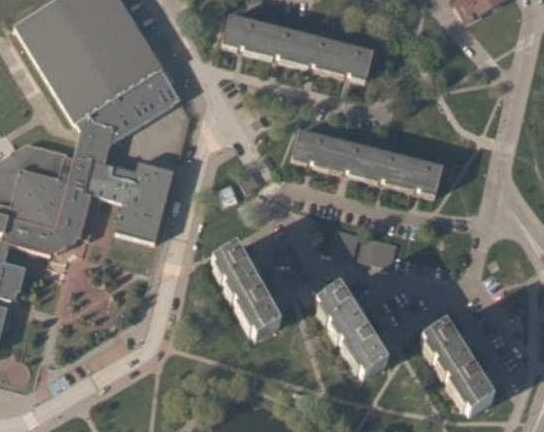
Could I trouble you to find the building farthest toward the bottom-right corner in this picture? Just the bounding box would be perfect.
[417,315,495,419]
